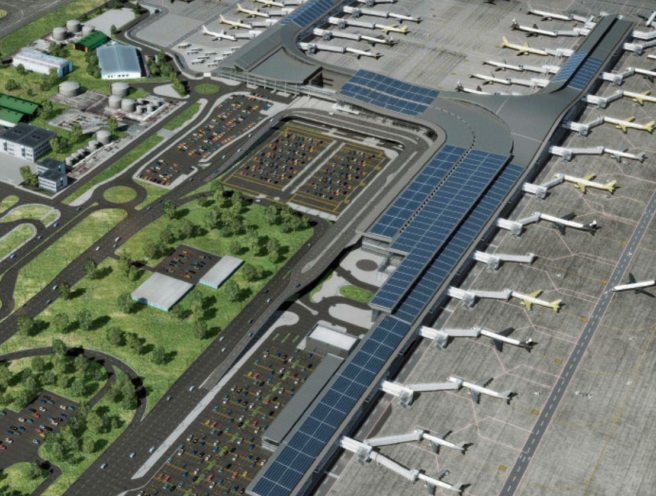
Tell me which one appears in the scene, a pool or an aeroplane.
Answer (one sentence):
Of the two, only an aeroplane appears.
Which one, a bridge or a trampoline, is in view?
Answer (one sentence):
Looking from above, you can make out a bridge.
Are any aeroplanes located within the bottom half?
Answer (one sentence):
Yes, you'll find an aeroplane within the bottom half.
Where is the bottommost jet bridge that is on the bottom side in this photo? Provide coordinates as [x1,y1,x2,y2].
[342,431,425,482]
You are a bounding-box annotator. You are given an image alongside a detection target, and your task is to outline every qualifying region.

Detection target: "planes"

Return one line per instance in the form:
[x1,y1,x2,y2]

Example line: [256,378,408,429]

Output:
[482,54,521,72]
[345,47,382,59]
[412,425,467,454]
[218,10,251,30]
[615,87,656,104]
[375,23,410,33]
[504,286,562,311]
[447,373,513,405]
[527,2,569,22]
[605,146,647,162]
[614,270,656,297]
[388,12,423,22]
[200,22,235,41]
[410,466,466,496]
[470,68,508,85]
[533,209,599,233]
[598,112,656,132]
[633,7,656,27]
[472,323,534,352]
[512,18,555,38]
[457,83,490,95]
[626,65,656,81]
[502,36,547,57]
[361,34,394,45]
[554,169,619,193]
[235,0,269,18]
